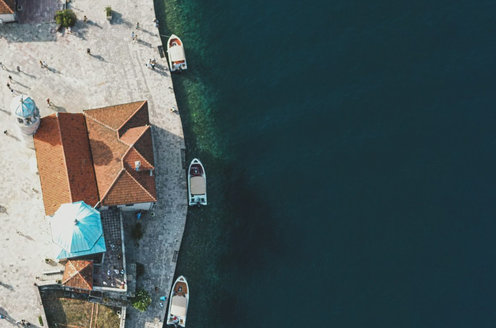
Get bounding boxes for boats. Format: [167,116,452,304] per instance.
[188,158,207,208]
[168,276,190,328]
[167,33,187,74]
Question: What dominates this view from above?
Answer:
water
